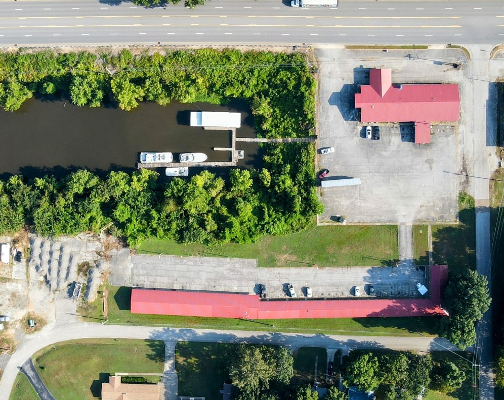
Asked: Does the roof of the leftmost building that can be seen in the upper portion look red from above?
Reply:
Yes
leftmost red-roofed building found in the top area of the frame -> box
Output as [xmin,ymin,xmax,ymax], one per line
[354,68,460,143]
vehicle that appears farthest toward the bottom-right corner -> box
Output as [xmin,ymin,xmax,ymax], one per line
[414,281,428,295]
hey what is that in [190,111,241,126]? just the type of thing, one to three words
boat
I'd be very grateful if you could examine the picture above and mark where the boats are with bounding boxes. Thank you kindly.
[190,111,241,126]
[166,168,188,177]
[140,153,173,163]
[180,153,207,163]
[237,151,243,160]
